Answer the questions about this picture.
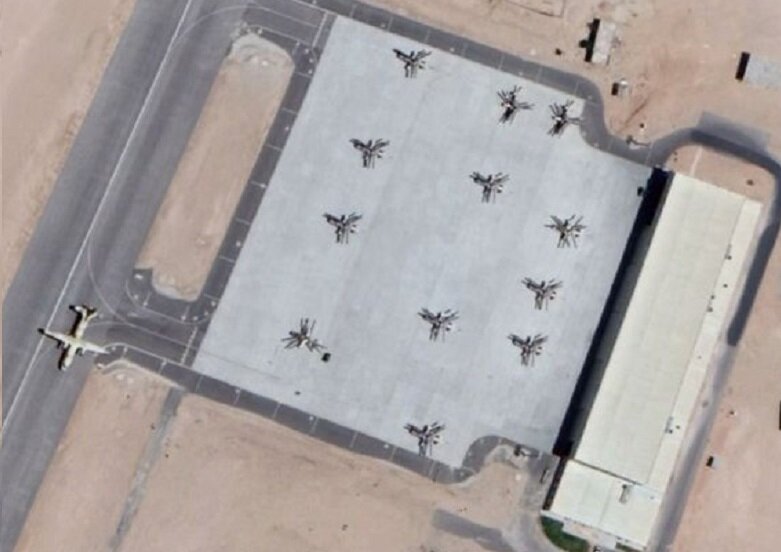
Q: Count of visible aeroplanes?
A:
1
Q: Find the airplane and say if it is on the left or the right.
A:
left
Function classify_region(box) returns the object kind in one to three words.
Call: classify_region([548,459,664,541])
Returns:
building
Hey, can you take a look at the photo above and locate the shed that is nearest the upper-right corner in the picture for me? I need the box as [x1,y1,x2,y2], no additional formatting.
[741,53,781,91]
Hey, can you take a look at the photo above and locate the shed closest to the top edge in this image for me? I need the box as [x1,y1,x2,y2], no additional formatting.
[588,20,617,65]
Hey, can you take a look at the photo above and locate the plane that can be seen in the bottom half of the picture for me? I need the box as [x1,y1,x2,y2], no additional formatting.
[46,306,108,371]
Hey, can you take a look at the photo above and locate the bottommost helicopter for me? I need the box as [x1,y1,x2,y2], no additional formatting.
[412,425,446,455]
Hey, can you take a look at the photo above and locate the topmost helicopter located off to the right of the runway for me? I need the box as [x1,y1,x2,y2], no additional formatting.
[398,50,433,80]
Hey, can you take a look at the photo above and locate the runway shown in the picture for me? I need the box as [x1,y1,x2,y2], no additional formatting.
[0,0,238,552]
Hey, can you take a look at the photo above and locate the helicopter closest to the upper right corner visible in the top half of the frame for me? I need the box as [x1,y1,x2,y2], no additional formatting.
[552,101,582,136]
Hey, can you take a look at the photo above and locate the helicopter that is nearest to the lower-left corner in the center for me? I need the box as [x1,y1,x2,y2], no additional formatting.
[291,319,325,349]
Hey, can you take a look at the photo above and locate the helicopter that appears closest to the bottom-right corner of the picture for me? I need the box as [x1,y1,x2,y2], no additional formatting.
[516,337,548,366]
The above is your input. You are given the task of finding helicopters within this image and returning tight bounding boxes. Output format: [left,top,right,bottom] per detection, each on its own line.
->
[516,337,548,366]
[503,87,532,124]
[530,281,562,310]
[330,216,364,245]
[398,50,433,80]
[412,425,446,455]
[477,175,511,204]
[552,101,582,136]
[291,319,325,349]
[551,217,586,248]
[356,140,390,169]
[426,312,459,342]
